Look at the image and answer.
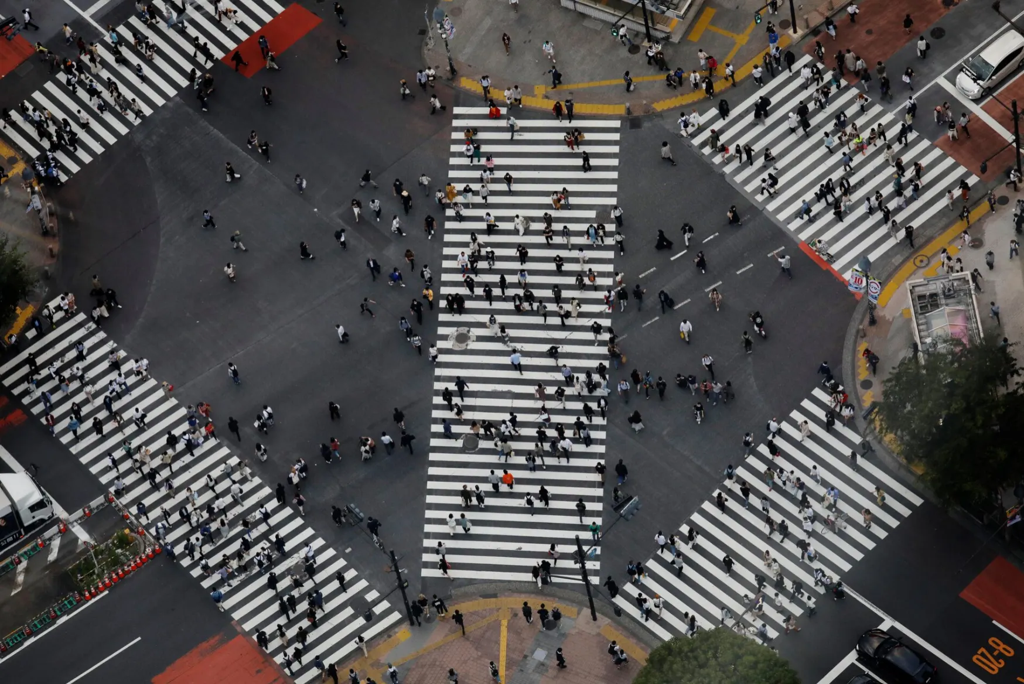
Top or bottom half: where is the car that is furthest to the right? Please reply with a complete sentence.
It is in the top half that the car that is furthest to the right appears.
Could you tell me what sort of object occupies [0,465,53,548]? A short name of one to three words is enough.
truck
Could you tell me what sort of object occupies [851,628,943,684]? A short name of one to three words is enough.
car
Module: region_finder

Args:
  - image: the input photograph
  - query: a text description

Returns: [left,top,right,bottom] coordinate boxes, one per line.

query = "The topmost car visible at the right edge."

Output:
[954,30,1024,99]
